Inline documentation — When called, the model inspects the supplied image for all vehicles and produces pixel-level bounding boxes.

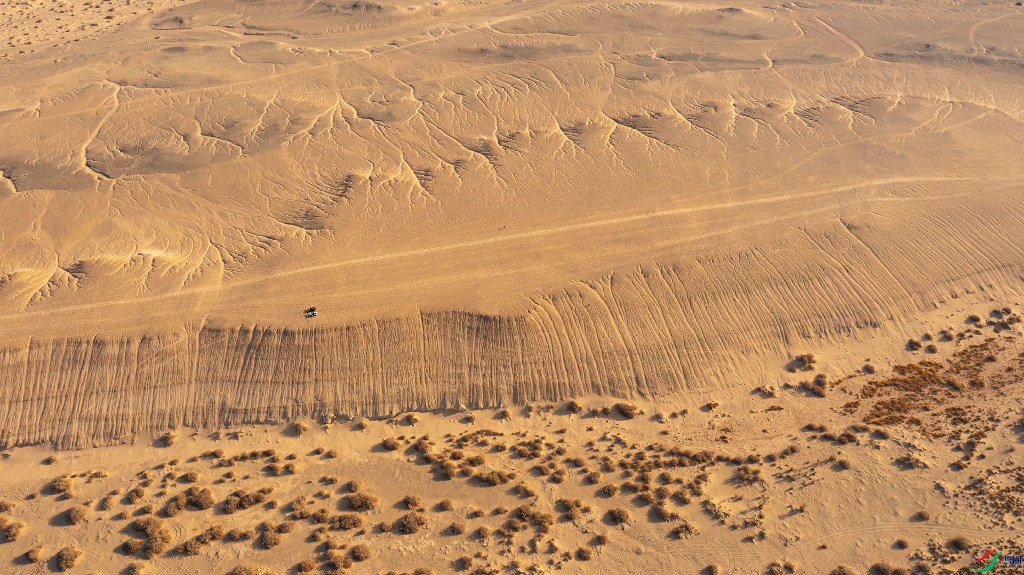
[309,311,318,316]
[308,306,317,312]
